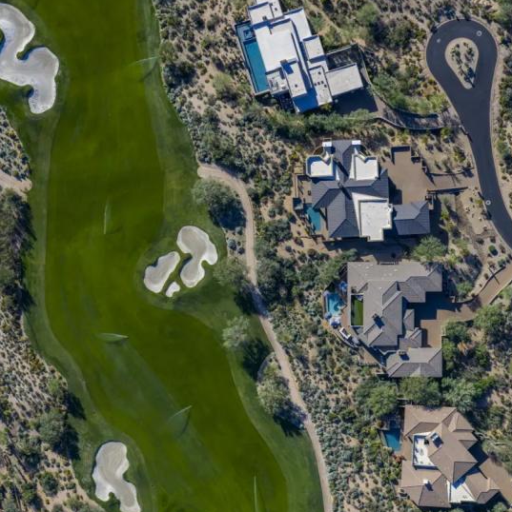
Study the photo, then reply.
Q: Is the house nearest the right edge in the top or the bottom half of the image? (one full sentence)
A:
It is in the bottom half that the house nearest the right edge appears.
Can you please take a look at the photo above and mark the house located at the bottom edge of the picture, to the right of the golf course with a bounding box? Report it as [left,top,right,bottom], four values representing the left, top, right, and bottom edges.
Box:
[400,405,500,509]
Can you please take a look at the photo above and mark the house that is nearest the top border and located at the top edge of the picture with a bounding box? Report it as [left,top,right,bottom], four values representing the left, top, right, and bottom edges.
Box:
[248,0,364,114]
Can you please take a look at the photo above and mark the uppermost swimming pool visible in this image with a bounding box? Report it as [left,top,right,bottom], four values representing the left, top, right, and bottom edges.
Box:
[234,19,257,42]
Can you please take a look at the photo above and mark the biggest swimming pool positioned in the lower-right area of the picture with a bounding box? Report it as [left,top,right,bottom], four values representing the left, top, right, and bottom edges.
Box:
[383,425,402,455]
